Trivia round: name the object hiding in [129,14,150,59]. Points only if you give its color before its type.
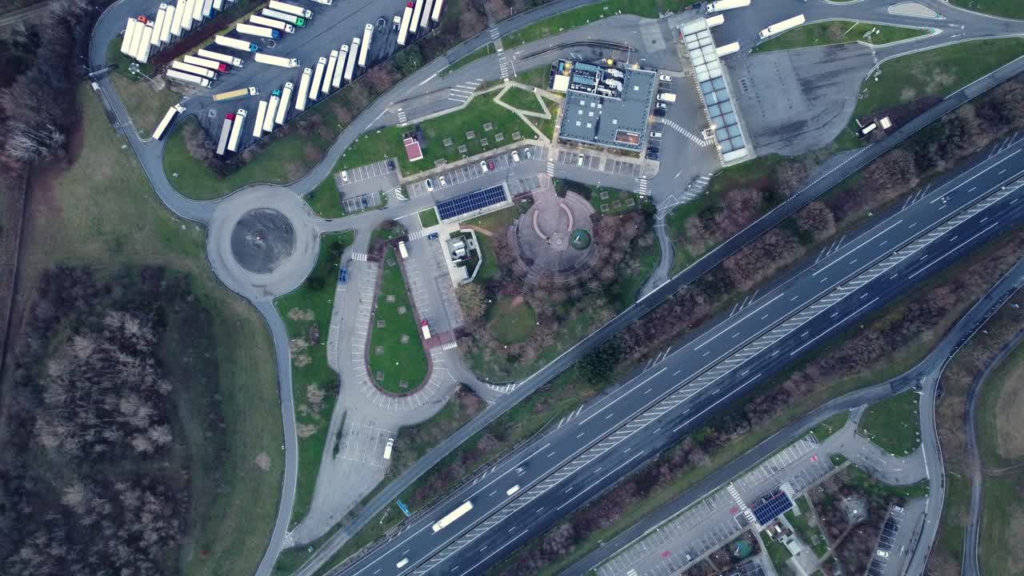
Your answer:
white truck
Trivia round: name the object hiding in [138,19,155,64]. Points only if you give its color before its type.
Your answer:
white vehicle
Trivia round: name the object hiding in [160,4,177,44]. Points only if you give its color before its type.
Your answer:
white vehicle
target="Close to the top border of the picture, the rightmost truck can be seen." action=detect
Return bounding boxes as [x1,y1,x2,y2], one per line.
[756,14,806,42]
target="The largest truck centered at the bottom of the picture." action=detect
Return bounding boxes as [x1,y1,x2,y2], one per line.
[432,500,474,532]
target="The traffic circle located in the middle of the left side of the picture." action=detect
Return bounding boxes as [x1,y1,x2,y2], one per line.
[206,184,319,298]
